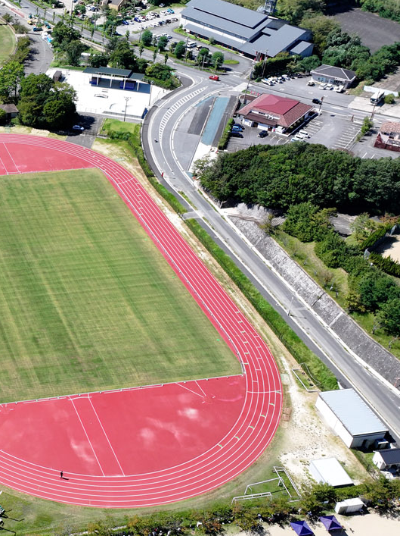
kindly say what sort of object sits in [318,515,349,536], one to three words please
tent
